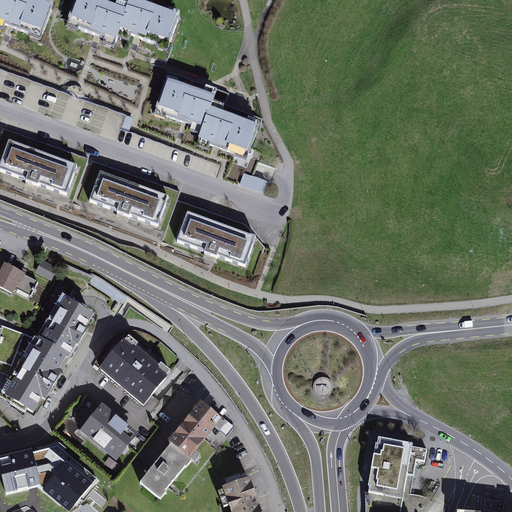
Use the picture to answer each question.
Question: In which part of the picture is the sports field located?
top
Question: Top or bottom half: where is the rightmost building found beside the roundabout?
bottom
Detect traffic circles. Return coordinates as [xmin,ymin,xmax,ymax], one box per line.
[272,310,380,430]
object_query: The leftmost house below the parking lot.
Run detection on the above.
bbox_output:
[0,262,38,296]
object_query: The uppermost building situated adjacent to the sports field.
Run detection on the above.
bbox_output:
[67,0,181,54]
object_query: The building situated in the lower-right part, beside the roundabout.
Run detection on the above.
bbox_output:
[368,436,427,501]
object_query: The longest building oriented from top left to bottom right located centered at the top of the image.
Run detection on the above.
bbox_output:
[153,76,262,171]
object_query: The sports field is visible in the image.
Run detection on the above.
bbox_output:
[170,0,243,80]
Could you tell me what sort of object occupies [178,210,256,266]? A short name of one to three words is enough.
building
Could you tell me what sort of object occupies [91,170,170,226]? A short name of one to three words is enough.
building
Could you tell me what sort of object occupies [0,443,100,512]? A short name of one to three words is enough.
house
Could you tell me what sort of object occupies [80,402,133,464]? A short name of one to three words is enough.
house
